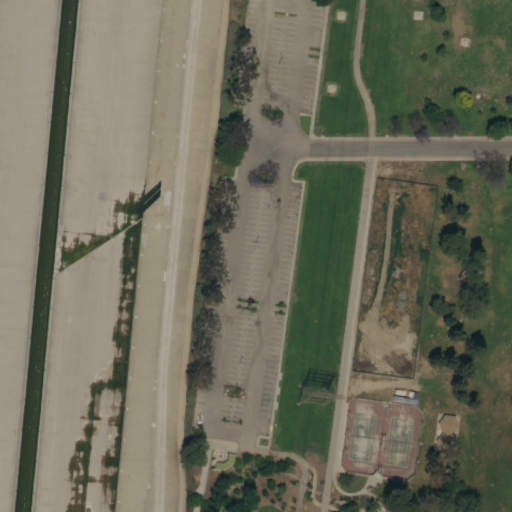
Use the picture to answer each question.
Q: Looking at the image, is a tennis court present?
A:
Yes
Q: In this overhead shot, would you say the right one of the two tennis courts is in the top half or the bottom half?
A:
bottom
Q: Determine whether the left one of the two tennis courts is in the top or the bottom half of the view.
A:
bottom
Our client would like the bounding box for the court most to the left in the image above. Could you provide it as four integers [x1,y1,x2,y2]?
[342,399,388,474]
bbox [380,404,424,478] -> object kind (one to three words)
tennis court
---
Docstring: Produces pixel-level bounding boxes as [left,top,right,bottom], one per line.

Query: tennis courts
[342,399,388,474]
[380,404,424,478]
